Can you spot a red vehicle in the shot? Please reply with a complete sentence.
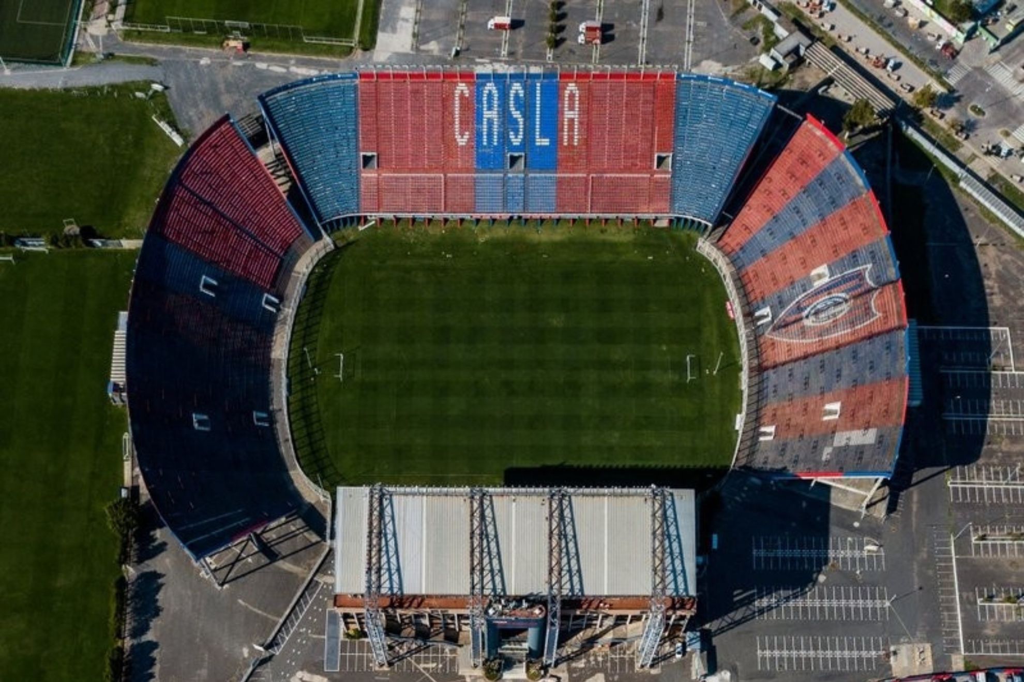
Yes, the frame does contain a red vehicle.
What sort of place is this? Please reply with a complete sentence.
The picture captures a sports ground.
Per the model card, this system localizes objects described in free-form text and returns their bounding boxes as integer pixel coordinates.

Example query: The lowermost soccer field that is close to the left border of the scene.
[0,250,145,682]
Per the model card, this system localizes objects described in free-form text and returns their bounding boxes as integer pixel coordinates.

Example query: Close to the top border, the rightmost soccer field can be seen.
[119,0,359,59]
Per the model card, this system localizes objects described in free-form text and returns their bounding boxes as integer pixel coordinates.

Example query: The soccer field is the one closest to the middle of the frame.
[287,219,745,538]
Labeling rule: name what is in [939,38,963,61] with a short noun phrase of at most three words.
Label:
truck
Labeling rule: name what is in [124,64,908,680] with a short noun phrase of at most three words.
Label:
stadium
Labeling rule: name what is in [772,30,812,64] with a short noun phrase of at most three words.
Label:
house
